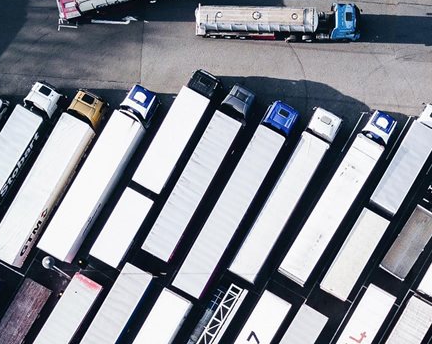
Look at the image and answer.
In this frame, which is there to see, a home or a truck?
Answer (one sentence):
This aerial view contains a truck.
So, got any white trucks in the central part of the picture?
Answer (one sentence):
Yes, you'll find a white truck in the central part of the picture.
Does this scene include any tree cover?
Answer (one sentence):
No, there is no tree cover in the image.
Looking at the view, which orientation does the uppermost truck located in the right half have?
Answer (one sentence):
From this overhead view, the uppermost truck located in the right half appears to run from left to right.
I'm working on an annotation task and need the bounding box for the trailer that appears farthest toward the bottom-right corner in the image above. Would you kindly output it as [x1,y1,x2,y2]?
[386,296,432,344]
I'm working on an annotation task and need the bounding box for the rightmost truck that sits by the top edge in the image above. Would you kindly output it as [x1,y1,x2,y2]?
[195,6,360,50]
